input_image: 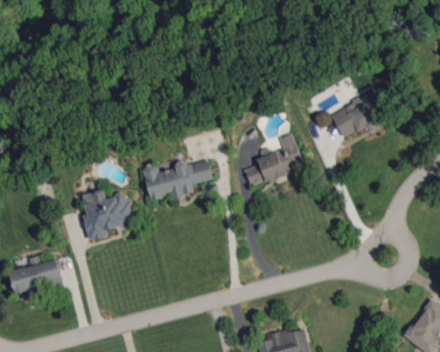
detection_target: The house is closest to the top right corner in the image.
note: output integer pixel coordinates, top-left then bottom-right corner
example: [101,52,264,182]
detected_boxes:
[332,95,373,136]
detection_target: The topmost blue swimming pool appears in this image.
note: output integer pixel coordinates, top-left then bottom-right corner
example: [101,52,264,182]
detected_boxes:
[316,94,340,112]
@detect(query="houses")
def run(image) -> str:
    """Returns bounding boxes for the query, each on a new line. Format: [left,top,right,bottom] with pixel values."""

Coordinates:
[244,132,300,186]
[259,330,313,352]
[141,156,214,203]
[332,95,373,136]
[404,302,440,352]
[8,256,62,296]
[81,188,134,240]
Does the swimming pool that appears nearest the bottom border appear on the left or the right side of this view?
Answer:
left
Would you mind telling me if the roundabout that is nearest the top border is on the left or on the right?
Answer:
right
